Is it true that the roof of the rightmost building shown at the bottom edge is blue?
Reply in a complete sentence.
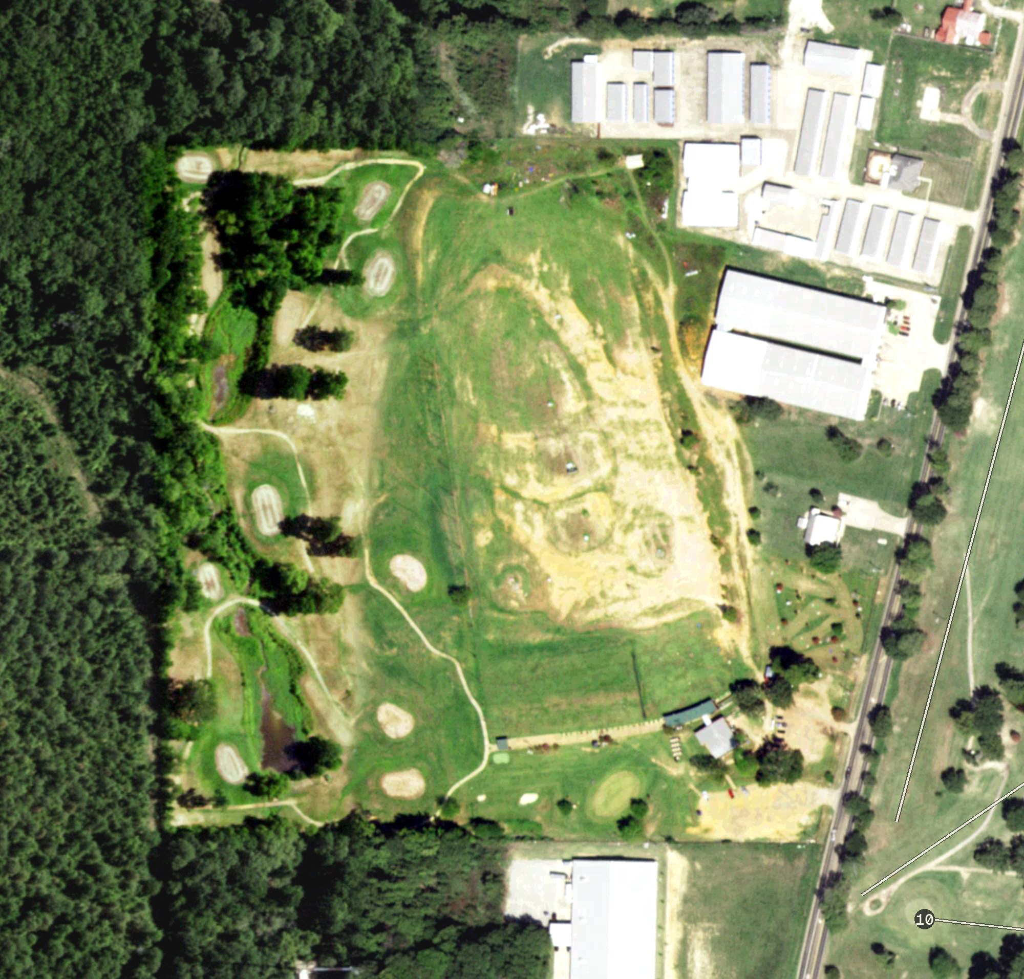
No, from above the roof of the rightmost building shown at the bottom edge looks white.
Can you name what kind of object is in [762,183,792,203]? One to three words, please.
shed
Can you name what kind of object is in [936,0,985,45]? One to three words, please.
house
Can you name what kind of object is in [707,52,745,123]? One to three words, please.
building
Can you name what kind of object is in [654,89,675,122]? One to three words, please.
building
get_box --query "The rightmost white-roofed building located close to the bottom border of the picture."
[571,861,659,979]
